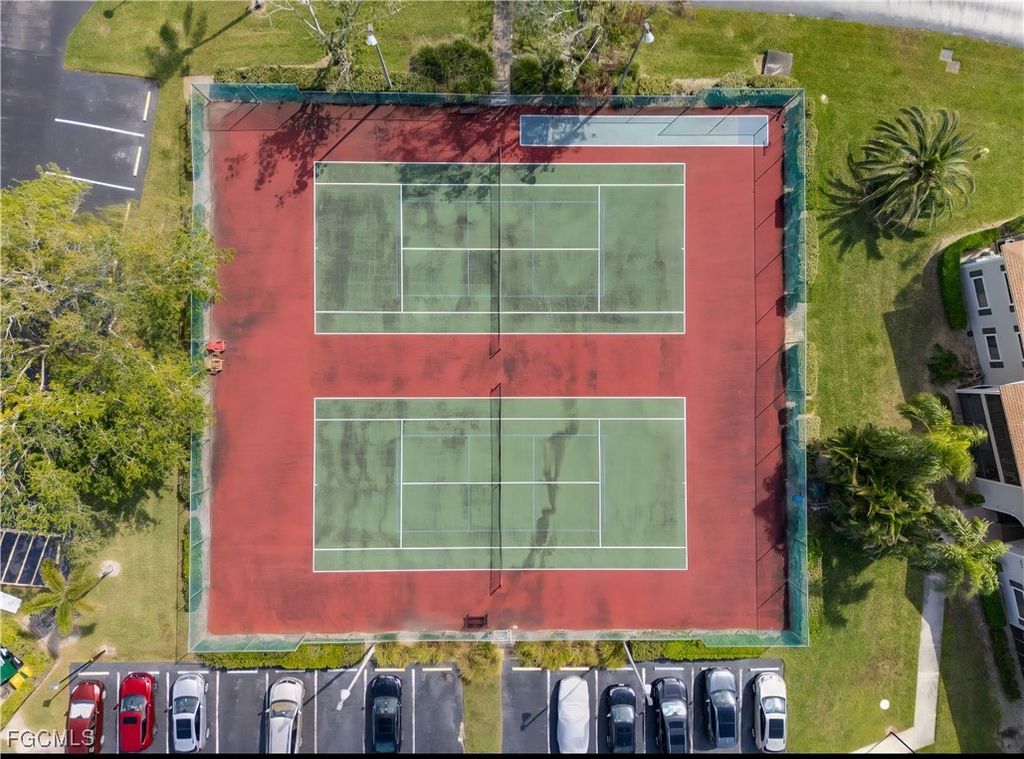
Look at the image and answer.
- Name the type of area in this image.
sports ground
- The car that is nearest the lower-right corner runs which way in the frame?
up and down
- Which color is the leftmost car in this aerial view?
red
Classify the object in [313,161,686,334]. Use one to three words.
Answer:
tennis court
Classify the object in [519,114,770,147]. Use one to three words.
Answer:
sports court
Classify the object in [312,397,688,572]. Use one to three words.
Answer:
tennis court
